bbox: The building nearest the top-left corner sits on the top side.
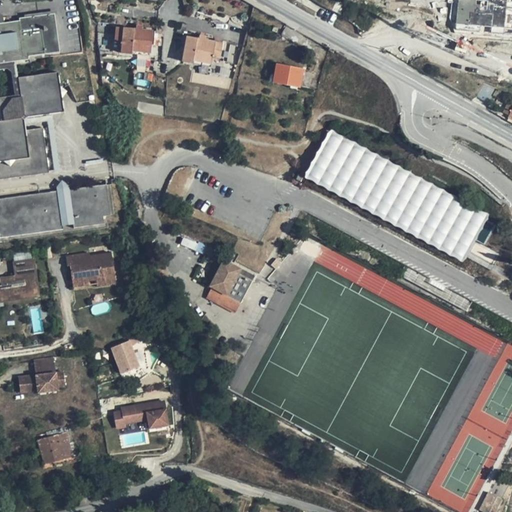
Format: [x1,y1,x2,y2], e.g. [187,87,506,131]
[0,14,60,62]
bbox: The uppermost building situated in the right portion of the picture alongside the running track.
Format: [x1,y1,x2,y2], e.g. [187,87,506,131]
[306,130,489,262]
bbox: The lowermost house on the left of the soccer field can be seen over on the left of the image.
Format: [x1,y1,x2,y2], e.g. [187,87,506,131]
[38,430,76,468]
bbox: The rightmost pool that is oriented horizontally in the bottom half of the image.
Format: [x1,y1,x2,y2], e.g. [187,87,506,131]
[120,432,149,448]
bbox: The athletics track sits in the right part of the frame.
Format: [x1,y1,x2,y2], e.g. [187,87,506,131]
[314,247,504,358]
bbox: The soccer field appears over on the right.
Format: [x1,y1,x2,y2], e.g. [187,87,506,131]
[240,262,475,483]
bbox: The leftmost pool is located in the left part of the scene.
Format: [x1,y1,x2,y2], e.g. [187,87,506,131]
[30,306,44,334]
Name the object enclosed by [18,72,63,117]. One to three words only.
building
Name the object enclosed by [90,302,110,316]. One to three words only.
swimming pool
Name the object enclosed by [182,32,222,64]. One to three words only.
house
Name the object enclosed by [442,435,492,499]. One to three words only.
tennis court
